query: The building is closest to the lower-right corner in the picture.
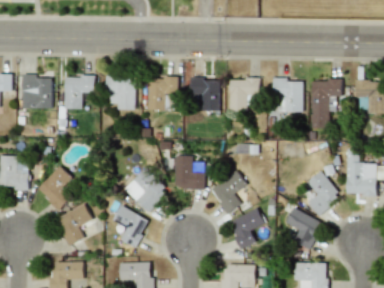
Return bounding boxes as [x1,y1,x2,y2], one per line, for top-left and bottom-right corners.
[296,263,330,288]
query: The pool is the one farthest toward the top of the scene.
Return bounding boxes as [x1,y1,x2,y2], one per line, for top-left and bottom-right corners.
[63,143,92,168]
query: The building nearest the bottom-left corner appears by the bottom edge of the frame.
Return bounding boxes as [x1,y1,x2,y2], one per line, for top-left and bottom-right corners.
[50,262,85,288]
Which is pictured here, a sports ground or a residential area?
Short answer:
residential area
